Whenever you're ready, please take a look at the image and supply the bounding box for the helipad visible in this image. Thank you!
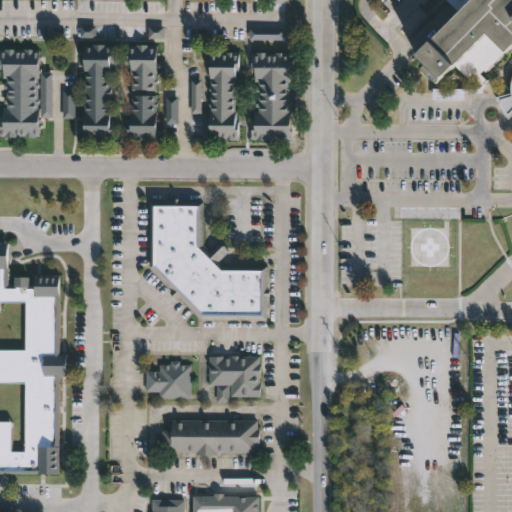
[410,228,450,267]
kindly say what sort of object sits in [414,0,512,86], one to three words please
building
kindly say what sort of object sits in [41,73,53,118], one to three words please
building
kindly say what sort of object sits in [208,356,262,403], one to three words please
house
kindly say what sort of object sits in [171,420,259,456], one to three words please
house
